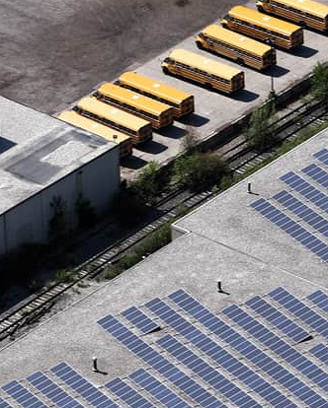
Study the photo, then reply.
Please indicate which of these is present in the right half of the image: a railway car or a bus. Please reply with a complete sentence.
There is a bus in the right half of the image.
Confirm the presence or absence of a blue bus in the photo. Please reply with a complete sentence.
No, no blue bus can be seen from above.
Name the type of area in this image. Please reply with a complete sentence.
What you see here is an industrial area.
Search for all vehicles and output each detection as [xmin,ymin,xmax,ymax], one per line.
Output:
[194,25,277,74]
[217,8,303,54]
[87,86,170,135]
[69,99,150,150]
[252,0,328,37]
[161,49,245,98]
[112,73,195,122]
